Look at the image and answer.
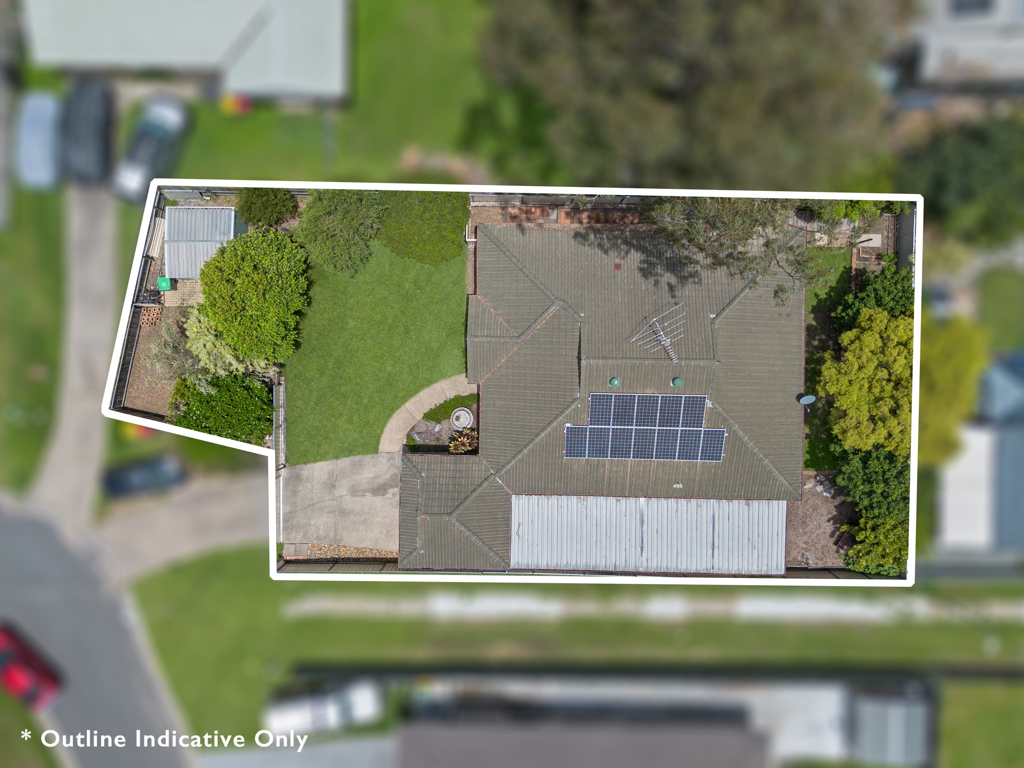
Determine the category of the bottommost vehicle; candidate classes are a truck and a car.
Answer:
truck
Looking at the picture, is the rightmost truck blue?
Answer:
No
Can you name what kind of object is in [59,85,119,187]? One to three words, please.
van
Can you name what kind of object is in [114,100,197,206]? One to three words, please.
car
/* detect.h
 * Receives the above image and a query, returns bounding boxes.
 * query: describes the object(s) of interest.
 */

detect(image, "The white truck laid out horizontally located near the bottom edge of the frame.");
[264,677,383,740]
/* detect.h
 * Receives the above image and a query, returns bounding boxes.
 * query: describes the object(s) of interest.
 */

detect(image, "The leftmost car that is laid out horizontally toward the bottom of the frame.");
[108,450,195,497]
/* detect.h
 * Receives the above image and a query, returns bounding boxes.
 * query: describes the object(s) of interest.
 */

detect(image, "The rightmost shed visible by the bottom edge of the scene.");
[839,690,923,763]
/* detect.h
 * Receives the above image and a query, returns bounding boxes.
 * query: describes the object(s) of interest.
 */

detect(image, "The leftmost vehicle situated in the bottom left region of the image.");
[0,614,74,708]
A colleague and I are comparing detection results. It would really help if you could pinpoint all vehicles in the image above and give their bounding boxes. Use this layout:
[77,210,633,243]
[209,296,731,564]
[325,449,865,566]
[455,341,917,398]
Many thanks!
[114,100,197,206]
[59,85,119,187]
[264,677,383,740]
[108,450,195,497]
[0,614,74,708]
